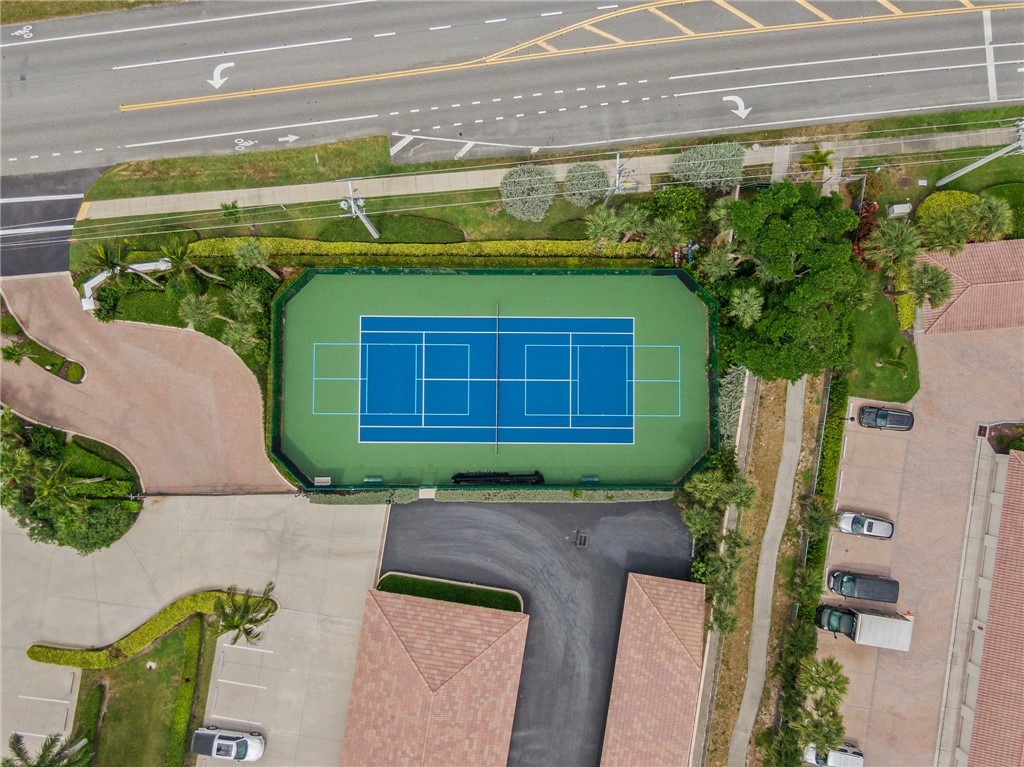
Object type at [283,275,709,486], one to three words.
tennis court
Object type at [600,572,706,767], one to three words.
building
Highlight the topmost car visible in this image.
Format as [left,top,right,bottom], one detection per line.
[856,404,914,432]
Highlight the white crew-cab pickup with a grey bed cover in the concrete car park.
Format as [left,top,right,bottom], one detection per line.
[190,726,266,765]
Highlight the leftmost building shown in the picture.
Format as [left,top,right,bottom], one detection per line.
[339,589,530,767]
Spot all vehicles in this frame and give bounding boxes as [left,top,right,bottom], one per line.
[190,726,266,765]
[815,602,913,650]
[836,512,894,539]
[826,569,900,604]
[804,741,870,767]
[856,404,914,432]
